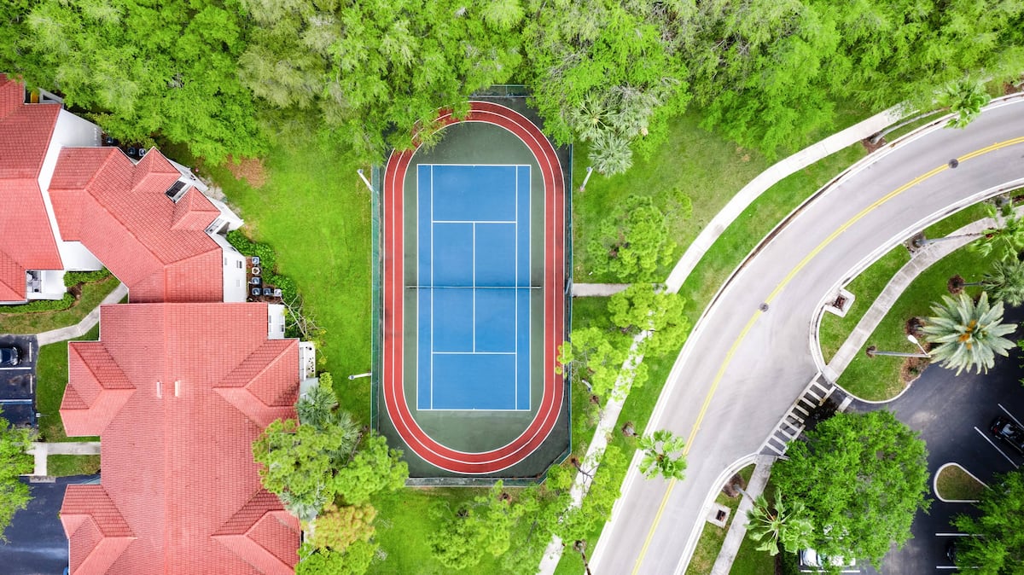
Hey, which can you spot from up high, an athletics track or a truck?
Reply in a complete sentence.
Visible in the photo is an athletics track.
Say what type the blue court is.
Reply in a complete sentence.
What you see as the blue court is a tennis court.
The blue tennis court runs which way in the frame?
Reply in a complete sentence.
From this overhead view, the blue tennis court appears to run up and down.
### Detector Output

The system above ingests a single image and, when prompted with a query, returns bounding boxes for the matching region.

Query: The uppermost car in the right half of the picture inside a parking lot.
[996,422,1024,461]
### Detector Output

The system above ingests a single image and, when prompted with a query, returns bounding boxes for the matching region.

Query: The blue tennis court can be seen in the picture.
[417,164,531,411]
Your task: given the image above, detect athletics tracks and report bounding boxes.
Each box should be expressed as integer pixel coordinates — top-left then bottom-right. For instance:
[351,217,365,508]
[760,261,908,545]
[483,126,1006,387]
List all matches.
[384,101,564,474]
